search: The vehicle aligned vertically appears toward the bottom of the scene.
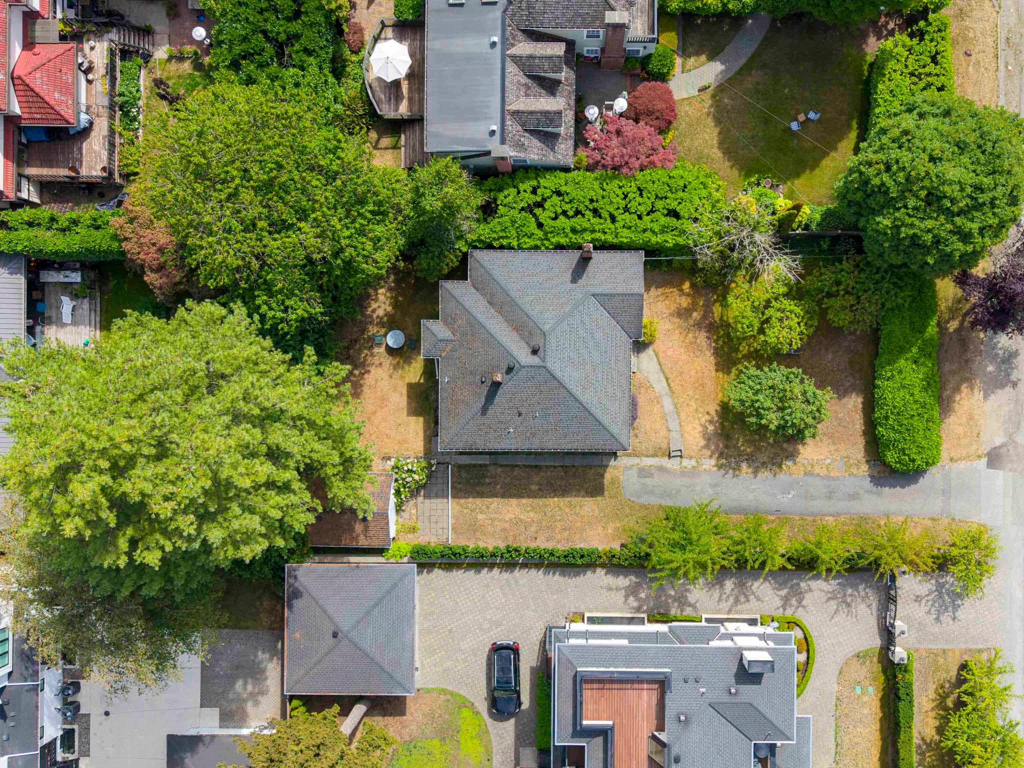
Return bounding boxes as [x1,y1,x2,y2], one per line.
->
[488,640,522,713]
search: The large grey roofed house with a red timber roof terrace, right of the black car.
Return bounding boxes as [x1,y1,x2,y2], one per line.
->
[546,613,815,768]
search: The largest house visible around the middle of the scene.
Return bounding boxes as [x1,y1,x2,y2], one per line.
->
[419,241,647,453]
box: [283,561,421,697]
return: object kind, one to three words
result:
building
